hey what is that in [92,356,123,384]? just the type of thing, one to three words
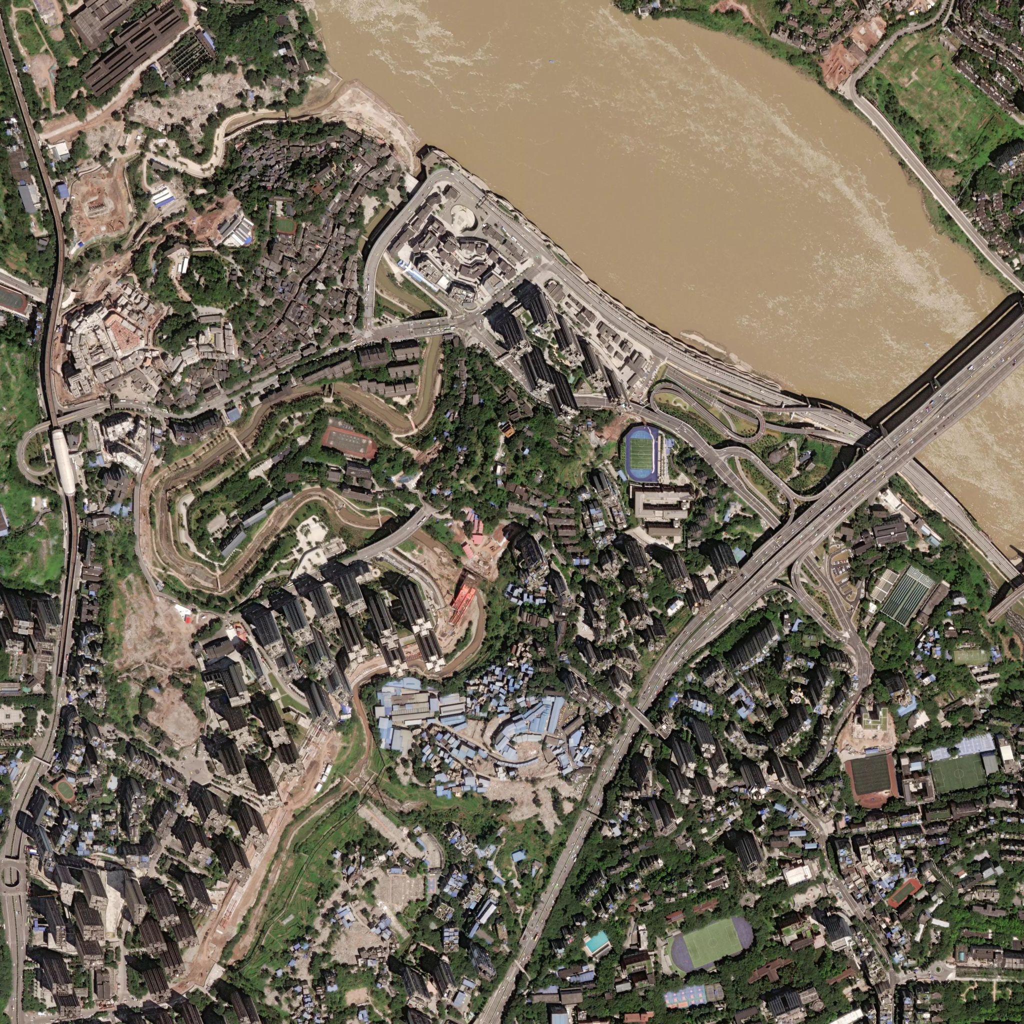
building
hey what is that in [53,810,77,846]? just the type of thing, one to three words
building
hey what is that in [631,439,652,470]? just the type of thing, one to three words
sports field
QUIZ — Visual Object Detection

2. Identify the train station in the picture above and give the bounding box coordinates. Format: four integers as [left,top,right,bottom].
[42,428,75,498]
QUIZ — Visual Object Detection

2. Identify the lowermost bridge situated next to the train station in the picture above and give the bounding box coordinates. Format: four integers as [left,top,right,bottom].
[57,496,78,677]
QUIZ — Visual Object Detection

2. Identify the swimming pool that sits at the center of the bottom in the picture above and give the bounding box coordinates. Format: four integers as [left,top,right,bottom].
[582,932,611,958]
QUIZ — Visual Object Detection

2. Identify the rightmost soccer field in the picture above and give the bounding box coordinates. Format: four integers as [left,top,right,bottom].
[932,754,987,794]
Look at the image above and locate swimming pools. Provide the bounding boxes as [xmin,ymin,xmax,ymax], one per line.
[582,932,611,958]
[109,776,118,789]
